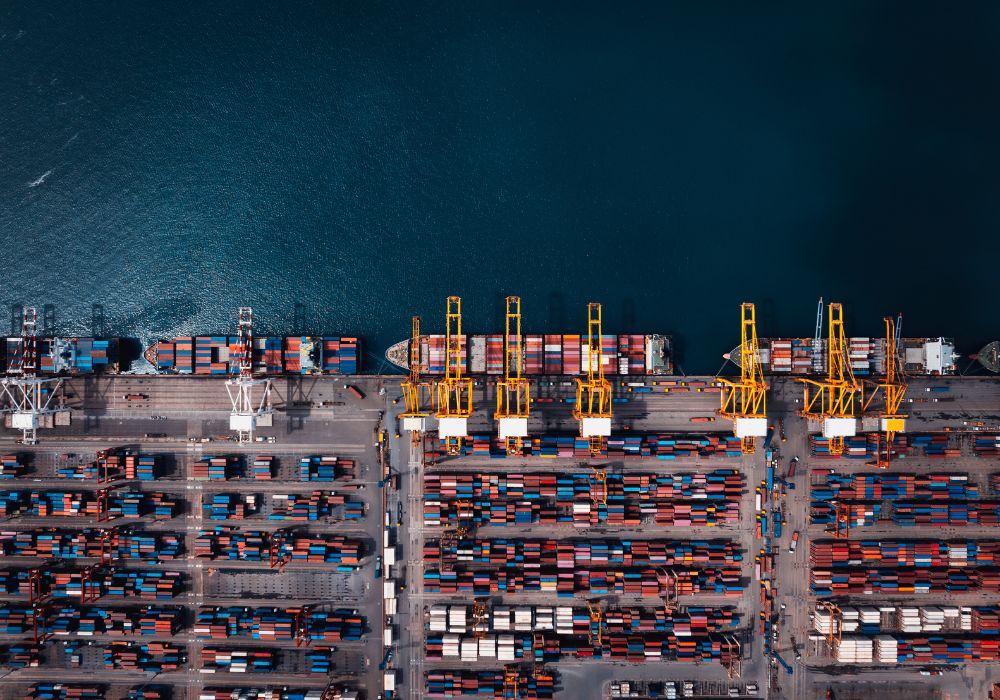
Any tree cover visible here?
No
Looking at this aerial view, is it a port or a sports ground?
port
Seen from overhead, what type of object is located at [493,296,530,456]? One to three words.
container crane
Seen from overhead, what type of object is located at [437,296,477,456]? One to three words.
container crane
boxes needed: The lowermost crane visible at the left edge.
[34,597,65,641]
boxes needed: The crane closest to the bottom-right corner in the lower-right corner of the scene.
[814,594,843,643]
